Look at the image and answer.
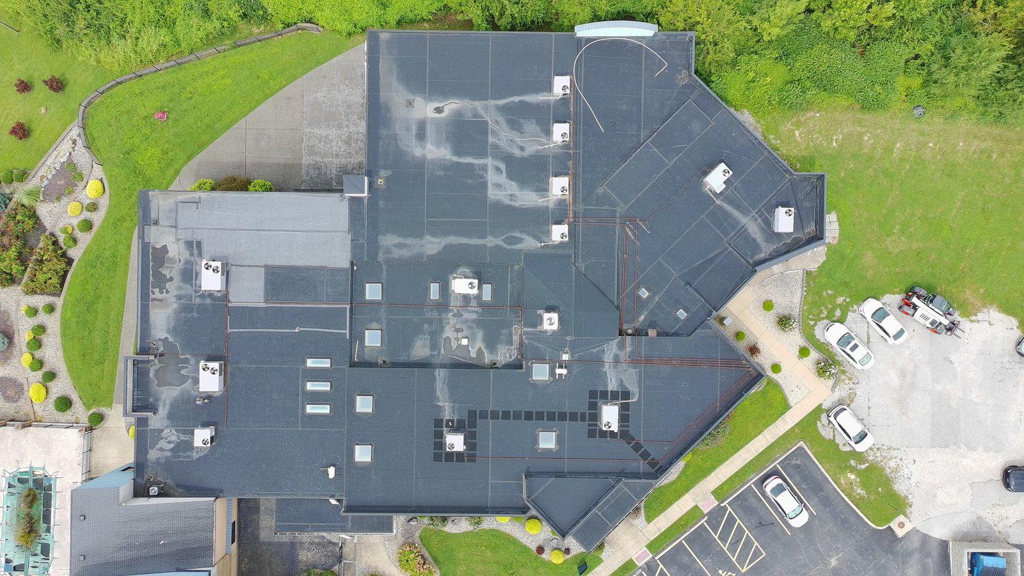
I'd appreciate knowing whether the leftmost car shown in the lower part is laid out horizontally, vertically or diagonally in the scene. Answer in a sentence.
In this picture, the leftmost car shown in the lower part lies diagonally.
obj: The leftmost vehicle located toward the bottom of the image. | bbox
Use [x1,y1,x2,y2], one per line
[760,472,810,529]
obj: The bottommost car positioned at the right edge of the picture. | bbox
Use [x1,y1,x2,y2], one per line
[1000,464,1024,492]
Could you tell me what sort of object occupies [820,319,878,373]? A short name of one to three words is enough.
car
